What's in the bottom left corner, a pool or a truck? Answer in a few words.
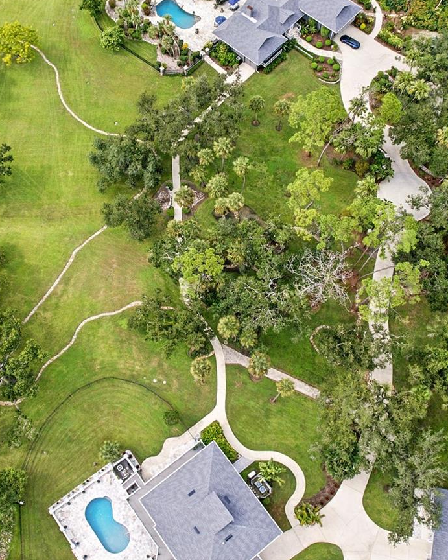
pool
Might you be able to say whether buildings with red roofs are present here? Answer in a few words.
No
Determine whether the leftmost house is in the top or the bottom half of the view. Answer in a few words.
bottom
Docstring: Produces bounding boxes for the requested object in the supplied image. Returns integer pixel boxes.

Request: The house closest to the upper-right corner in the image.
[212,0,362,81]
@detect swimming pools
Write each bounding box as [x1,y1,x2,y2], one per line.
[83,495,132,556]
[154,0,202,30]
